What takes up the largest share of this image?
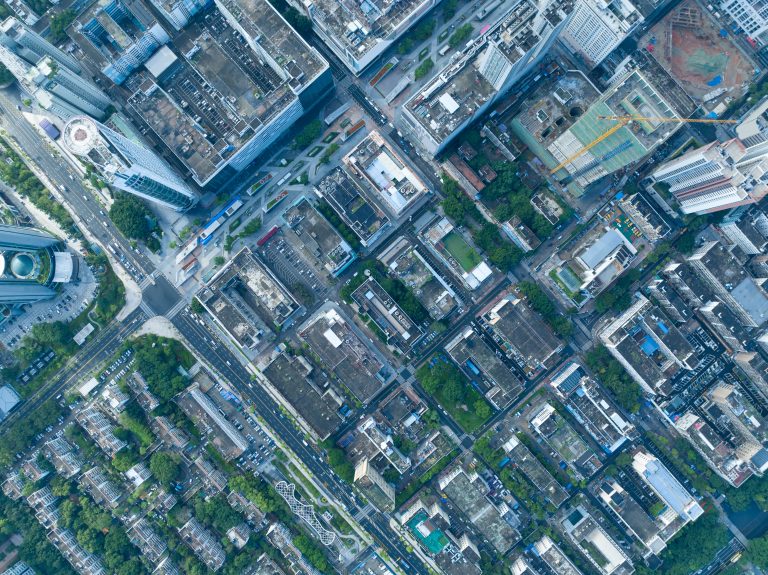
buildings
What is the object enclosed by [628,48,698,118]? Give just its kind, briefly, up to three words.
shed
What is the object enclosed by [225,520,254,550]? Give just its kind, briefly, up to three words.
house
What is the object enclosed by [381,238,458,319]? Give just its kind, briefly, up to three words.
building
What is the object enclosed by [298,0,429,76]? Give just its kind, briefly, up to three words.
building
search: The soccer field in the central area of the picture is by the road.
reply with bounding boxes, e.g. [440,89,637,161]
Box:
[442,229,483,272]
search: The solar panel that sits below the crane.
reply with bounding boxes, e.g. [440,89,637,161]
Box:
[611,247,634,266]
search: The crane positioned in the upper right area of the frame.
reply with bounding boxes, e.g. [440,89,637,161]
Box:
[550,115,739,174]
